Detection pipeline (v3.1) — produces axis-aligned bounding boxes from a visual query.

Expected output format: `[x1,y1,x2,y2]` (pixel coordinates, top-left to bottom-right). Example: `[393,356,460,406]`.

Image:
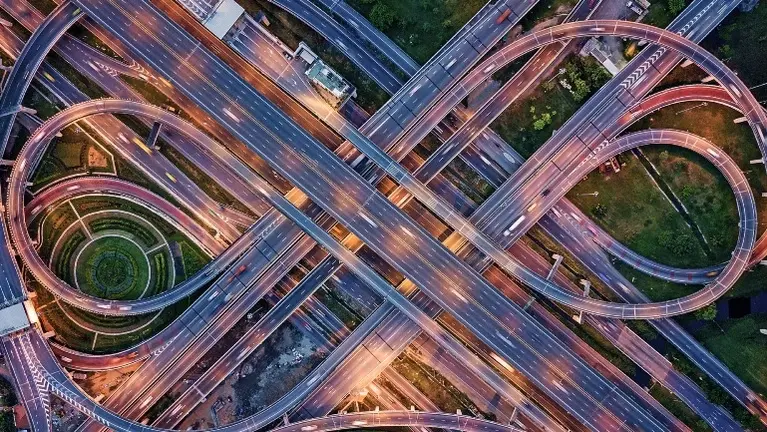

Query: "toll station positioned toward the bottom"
[0,288,45,350]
